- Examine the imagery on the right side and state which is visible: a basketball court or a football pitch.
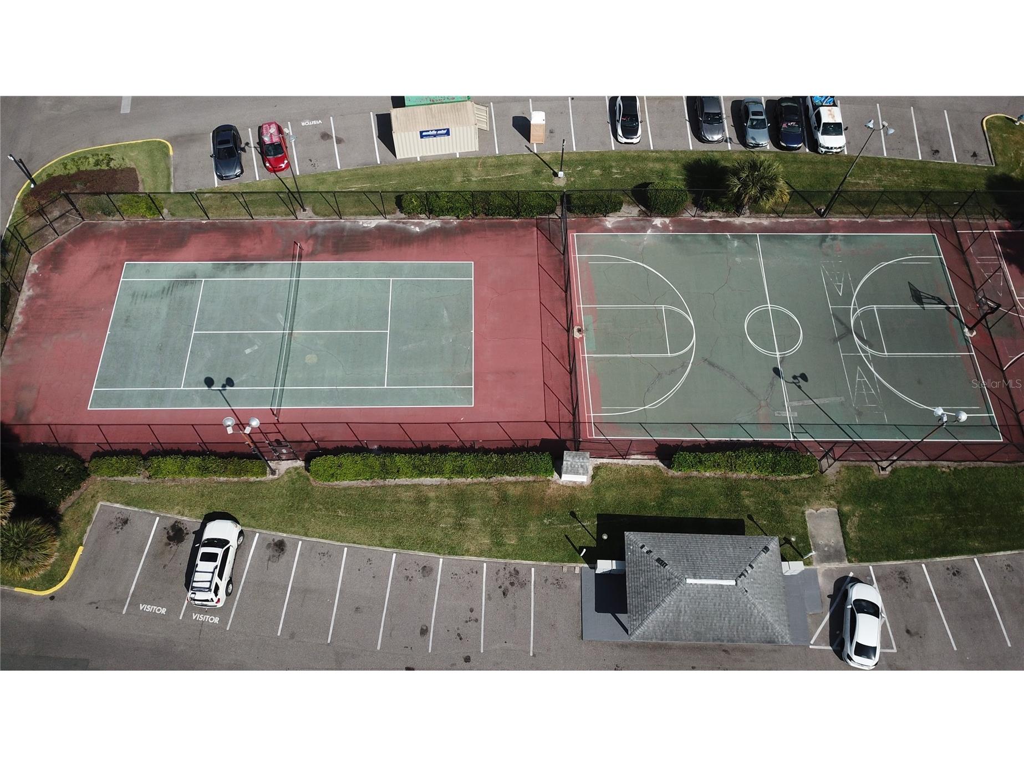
basketball court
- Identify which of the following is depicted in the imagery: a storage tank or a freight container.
freight container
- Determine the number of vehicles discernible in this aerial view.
9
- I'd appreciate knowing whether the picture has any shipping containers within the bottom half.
No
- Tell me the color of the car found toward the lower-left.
white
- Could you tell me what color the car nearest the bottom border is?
white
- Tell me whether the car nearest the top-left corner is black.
Yes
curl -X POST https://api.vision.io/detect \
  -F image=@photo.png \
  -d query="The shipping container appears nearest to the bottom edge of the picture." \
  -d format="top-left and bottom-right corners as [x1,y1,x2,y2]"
[390,101,488,159]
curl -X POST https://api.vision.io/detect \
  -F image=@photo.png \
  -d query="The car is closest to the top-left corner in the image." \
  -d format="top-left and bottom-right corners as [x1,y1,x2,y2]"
[211,125,245,180]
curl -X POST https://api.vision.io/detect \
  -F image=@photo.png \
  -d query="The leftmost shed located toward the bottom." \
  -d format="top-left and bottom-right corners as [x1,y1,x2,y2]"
[557,451,589,483]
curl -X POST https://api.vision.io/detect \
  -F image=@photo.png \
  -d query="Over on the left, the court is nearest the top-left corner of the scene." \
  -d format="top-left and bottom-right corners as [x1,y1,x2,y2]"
[0,218,574,466]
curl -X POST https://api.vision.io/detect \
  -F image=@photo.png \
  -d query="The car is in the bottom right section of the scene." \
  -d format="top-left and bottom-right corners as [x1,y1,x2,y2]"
[839,580,885,670]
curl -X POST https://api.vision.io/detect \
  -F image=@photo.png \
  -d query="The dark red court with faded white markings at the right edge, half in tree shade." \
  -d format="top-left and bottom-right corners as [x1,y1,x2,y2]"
[953,220,1024,428]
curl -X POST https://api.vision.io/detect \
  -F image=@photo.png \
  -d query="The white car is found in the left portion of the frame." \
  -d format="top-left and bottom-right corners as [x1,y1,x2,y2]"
[188,518,247,607]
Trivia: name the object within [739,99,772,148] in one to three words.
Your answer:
car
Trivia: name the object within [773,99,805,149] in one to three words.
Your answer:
car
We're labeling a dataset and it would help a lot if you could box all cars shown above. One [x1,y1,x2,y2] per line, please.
[739,99,772,148]
[211,125,245,180]
[615,93,645,143]
[773,99,805,149]
[188,518,247,607]
[259,126,290,172]
[693,90,727,141]
[839,580,885,670]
